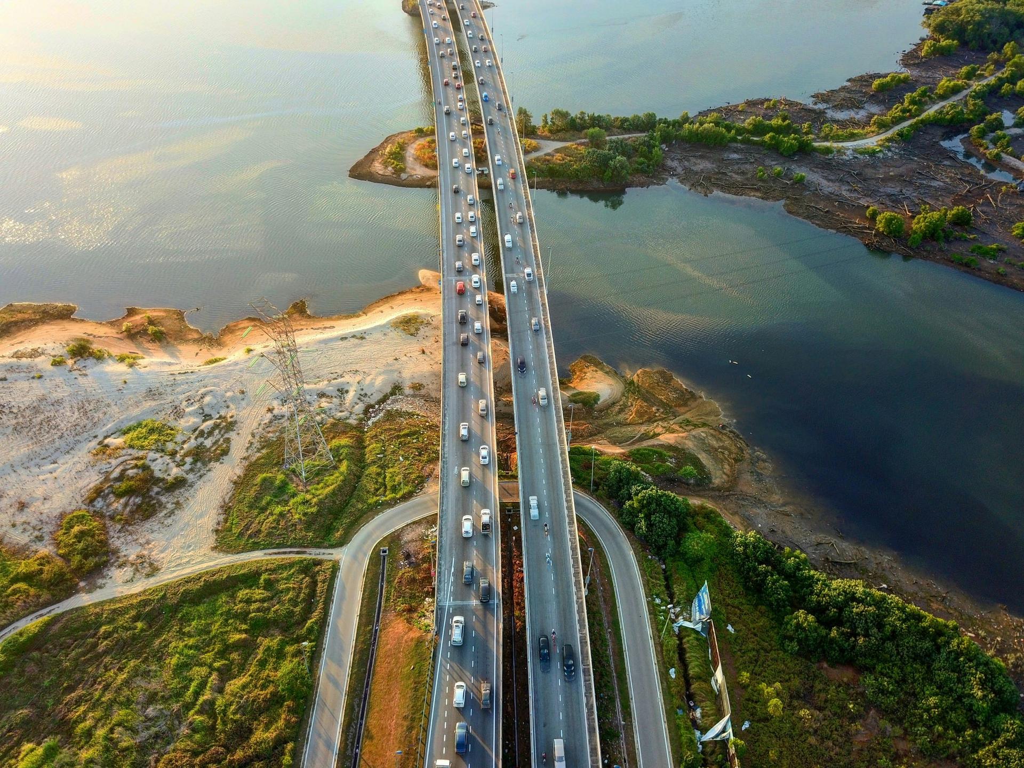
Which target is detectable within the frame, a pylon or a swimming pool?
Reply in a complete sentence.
Looking from above, you can make out a pylon.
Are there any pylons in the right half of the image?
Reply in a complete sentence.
No, there's no pylon to be seen in the right half of the image.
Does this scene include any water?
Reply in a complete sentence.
Yes, the picture does contain water.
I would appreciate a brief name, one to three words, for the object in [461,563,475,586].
car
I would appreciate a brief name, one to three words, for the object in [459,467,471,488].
vehicle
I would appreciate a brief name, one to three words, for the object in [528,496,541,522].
vehicle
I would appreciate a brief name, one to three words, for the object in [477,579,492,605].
car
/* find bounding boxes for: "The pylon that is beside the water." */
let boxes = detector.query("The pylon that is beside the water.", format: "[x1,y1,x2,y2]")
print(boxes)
[238,297,350,485]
